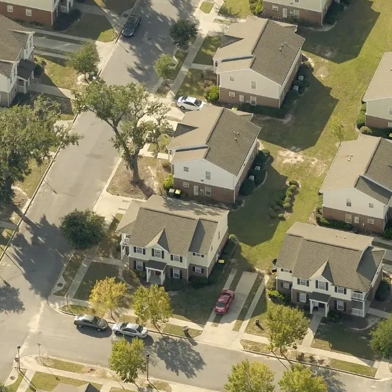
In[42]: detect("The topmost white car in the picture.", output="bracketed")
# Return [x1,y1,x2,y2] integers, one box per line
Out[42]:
[173,95,208,112]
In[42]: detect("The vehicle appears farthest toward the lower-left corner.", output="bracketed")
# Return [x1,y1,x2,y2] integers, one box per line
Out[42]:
[74,315,108,333]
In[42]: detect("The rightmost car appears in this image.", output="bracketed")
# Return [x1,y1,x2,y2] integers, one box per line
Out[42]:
[215,291,235,315]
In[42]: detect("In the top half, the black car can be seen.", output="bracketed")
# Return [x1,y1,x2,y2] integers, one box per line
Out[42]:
[122,14,140,37]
